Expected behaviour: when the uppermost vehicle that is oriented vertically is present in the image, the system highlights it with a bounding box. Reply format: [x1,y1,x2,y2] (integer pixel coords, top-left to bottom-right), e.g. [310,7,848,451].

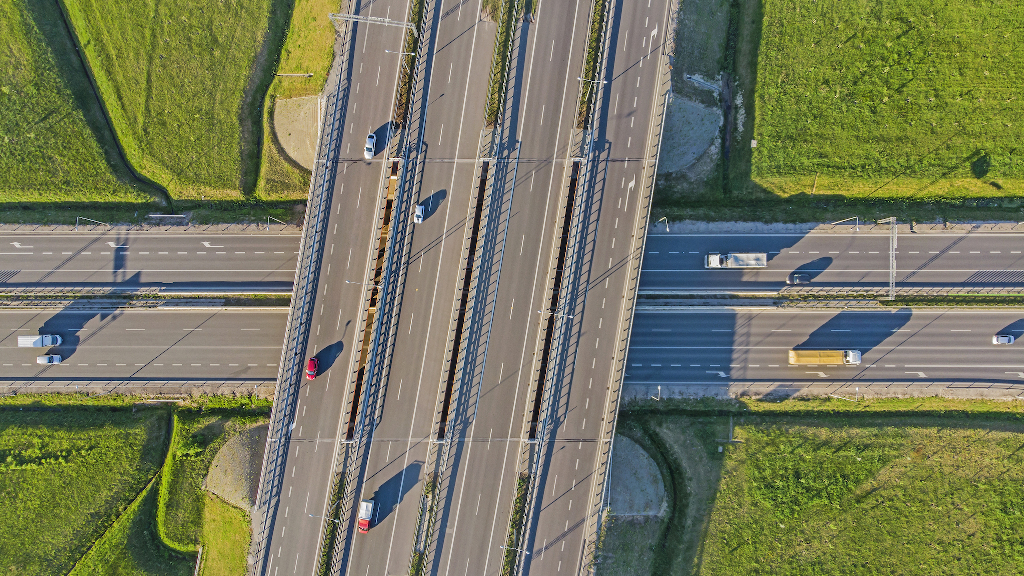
[365,134,377,159]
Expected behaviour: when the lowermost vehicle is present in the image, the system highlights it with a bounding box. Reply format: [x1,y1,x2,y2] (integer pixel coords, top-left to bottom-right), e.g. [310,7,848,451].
[357,498,374,534]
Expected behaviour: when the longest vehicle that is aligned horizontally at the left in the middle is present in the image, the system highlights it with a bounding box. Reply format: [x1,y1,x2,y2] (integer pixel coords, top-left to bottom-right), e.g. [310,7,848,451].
[17,335,63,347]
